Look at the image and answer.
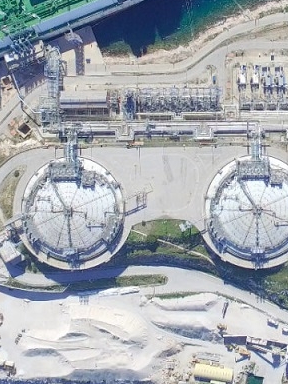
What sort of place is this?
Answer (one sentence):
The area seen from above is an industrial area.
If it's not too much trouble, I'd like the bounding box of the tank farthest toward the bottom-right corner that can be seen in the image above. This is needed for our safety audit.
[202,137,288,268]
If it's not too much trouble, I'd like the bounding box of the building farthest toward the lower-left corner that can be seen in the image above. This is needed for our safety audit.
[0,239,26,264]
